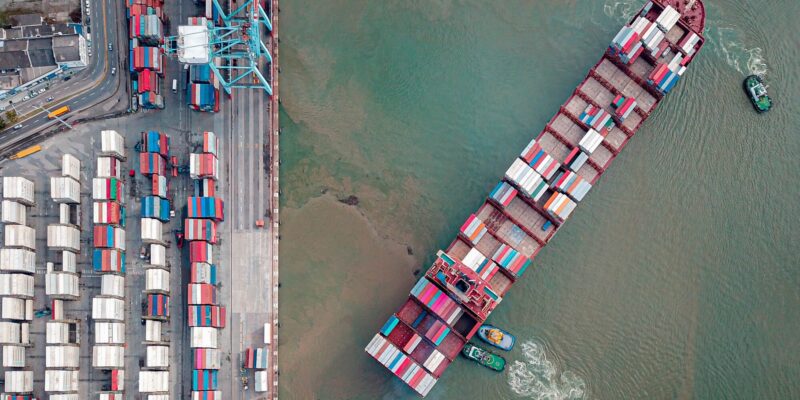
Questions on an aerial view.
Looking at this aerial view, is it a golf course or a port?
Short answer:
port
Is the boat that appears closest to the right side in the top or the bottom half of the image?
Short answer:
top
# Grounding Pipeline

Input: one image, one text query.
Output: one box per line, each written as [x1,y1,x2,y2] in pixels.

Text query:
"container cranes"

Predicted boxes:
[158,0,272,101]
[212,0,272,37]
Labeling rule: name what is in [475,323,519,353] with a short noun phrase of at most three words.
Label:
boat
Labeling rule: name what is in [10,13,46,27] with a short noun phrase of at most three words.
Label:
building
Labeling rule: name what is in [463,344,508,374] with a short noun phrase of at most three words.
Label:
boat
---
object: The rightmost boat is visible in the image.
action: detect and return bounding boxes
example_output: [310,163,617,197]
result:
[743,70,777,114]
